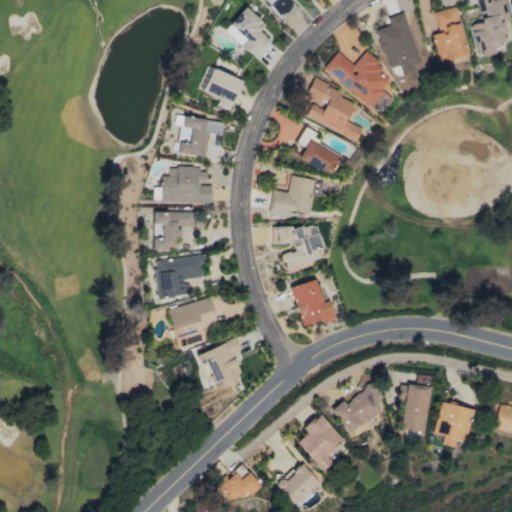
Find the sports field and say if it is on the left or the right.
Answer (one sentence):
It is on the right.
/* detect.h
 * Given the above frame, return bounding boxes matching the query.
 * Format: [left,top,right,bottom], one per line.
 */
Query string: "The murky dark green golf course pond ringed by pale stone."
[96,8,188,144]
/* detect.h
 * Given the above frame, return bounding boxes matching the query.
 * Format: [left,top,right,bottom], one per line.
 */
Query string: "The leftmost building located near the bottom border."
[218,464,263,500]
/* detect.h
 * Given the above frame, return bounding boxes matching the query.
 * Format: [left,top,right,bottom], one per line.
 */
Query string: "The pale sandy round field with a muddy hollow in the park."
[404,109,512,220]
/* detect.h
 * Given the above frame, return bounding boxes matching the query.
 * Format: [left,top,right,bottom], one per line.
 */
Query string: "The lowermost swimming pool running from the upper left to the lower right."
[328,137,348,154]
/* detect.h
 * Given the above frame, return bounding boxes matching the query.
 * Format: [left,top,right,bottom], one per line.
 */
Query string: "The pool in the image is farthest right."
[352,113,374,132]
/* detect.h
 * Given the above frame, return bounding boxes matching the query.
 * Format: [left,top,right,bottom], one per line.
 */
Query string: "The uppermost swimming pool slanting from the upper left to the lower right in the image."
[214,34,236,52]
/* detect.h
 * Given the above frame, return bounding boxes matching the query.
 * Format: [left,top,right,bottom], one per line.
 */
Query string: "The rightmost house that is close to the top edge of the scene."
[472,0,511,57]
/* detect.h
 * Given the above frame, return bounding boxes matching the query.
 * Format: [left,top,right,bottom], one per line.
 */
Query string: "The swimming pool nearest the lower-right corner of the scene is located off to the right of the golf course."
[302,492,322,508]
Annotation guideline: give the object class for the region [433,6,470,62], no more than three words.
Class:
house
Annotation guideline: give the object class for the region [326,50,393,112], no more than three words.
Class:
house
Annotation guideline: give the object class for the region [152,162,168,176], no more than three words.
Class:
swimming pool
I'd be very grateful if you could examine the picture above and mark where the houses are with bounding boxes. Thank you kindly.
[400,374,433,438]
[270,0,298,16]
[174,114,224,156]
[274,226,324,258]
[472,0,511,57]
[433,6,470,62]
[278,464,321,507]
[218,464,263,500]
[200,66,244,104]
[436,403,476,448]
[226,7,271,53]
[378,10,422,76]
[334,384,384,436]
[300,415,345,470]
[298,126,344,174]
[306,80,364,143]
[326,50,393,112]
[198,338,243,388]
[293,280,338,327]
[154,212,194,252]
[498,404,512,436]
[156,254,206,298]
[270,175,316,217]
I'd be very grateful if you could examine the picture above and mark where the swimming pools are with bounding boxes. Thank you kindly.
[352,113,374,132]
[155,320,166,339]
[328,137,348,154]
[302,492,322,508]
[214,34,236,52]
[152,162,168,176]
